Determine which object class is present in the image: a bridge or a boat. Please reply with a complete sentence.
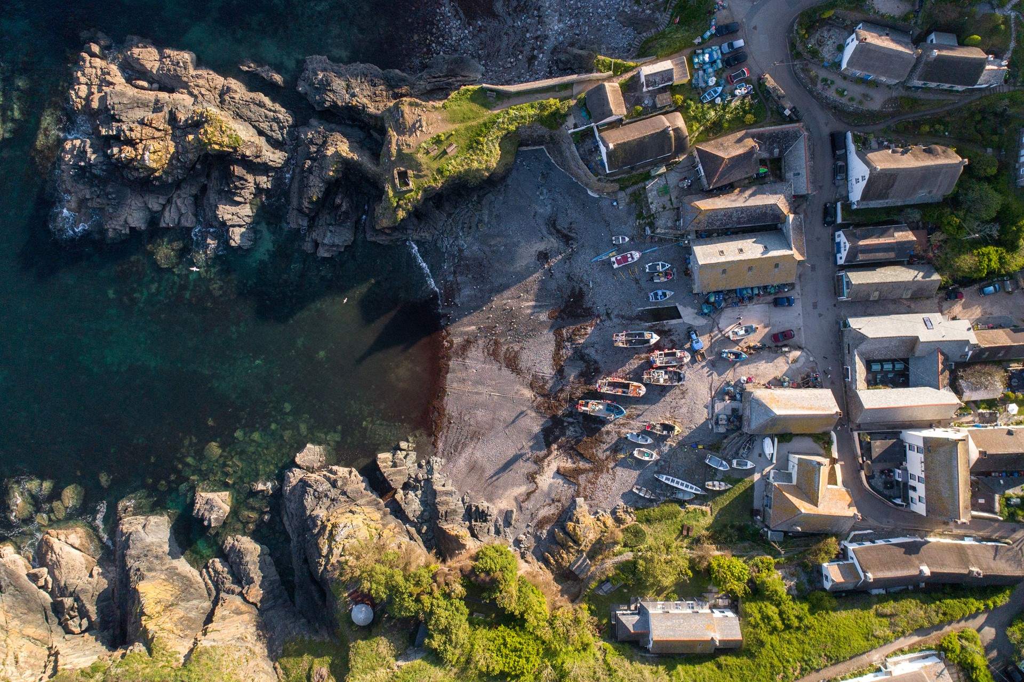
Looking from above, you can make out a boat.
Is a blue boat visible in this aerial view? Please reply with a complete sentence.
Yes, there's a blue boat here.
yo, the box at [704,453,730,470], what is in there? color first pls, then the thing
blue boat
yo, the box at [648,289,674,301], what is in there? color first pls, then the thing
blue boat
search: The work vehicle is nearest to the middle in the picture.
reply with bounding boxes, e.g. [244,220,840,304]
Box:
[686,327,707,350]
